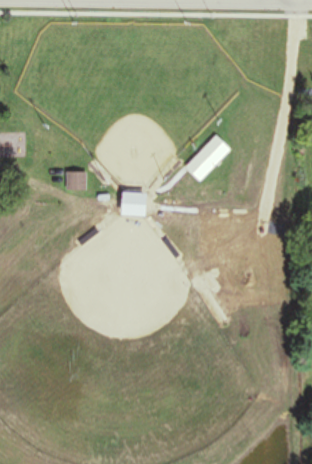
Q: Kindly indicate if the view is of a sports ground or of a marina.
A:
sports ground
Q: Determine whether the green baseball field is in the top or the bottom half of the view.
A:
top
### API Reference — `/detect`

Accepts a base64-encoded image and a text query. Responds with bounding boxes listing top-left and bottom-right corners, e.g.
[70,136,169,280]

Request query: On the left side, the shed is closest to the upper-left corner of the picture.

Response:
[66,172,87,191]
